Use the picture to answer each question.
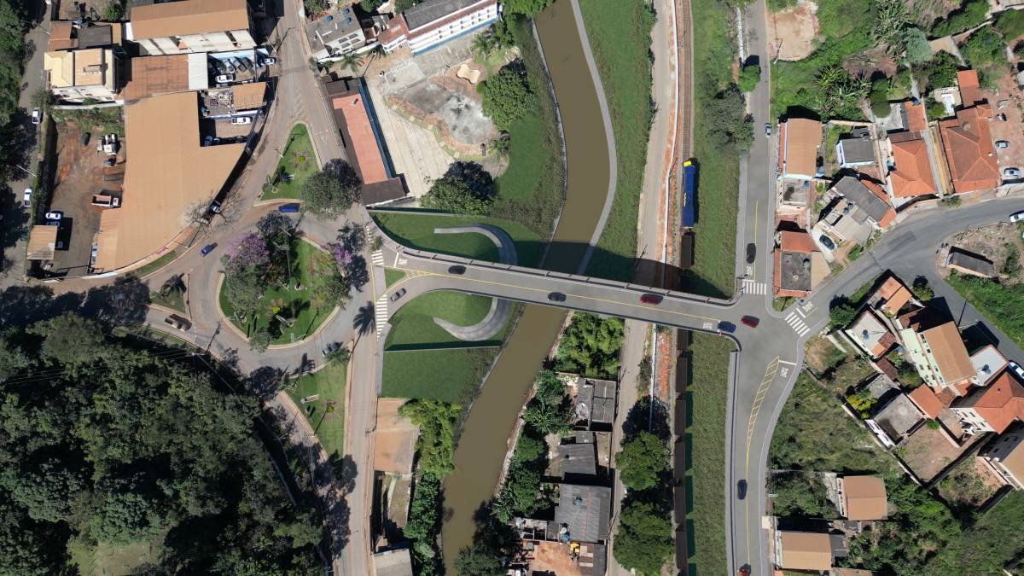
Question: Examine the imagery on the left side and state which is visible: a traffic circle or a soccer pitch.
traffic circle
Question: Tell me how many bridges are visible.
1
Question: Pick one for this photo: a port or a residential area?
residential area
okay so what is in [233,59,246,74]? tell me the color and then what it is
gray vehicle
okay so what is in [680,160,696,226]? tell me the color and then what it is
blue rail car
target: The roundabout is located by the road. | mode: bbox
[192,219,372,364]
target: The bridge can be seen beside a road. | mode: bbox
[363,218,745,350]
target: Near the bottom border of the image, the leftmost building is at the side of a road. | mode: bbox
[374,543,414,576]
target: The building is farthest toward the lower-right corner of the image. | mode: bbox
[980,432,1024,498]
